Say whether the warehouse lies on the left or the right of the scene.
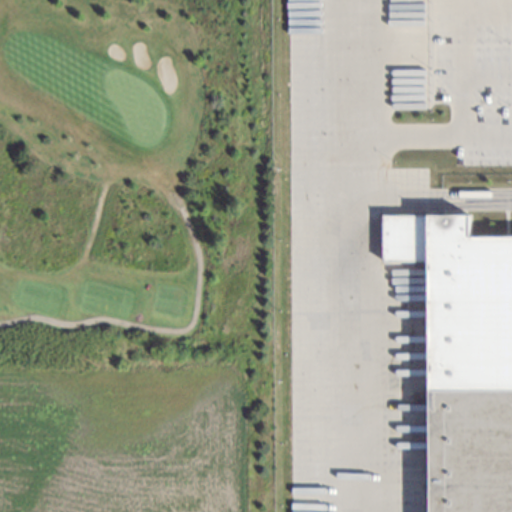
right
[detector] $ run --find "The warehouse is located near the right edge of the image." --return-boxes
[382,214,512,512]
